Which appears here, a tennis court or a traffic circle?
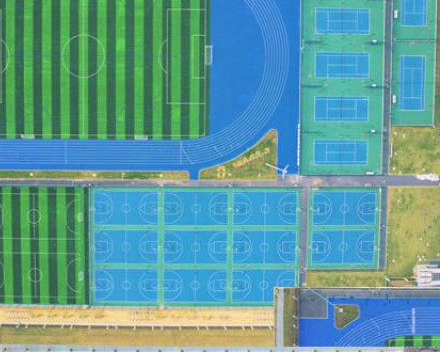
tennis court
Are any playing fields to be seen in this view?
Yes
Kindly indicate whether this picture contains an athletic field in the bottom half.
Yes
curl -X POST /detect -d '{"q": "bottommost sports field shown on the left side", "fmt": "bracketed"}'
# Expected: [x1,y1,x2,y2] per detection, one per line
[0,244,86,306]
